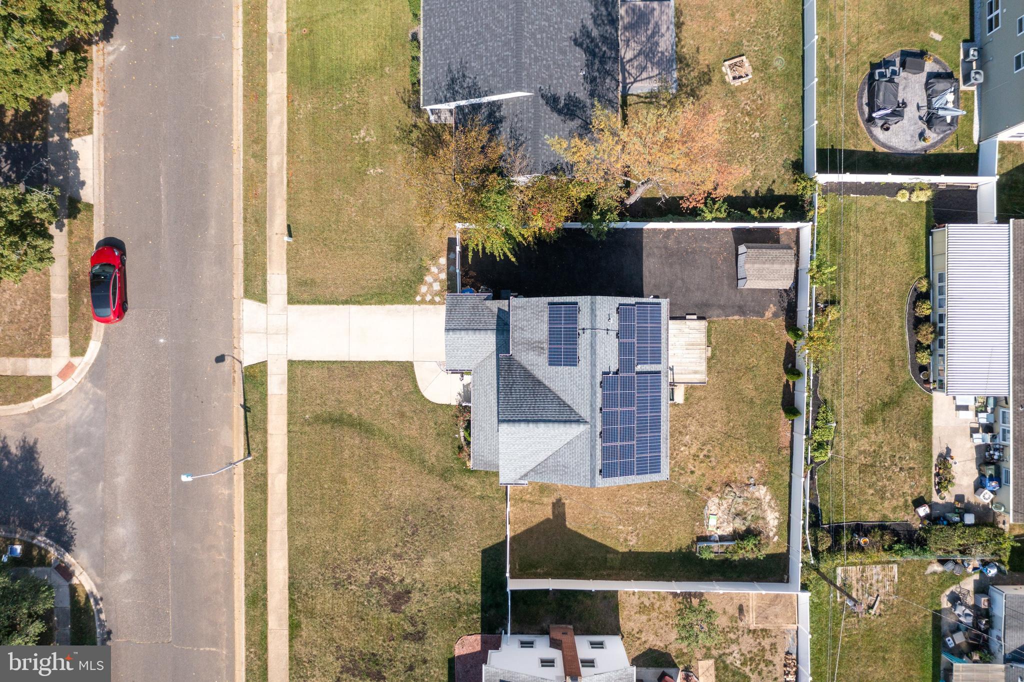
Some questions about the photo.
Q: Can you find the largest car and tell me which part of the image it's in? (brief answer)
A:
left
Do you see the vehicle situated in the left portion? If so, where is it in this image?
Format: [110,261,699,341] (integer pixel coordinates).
[87,247,132,325]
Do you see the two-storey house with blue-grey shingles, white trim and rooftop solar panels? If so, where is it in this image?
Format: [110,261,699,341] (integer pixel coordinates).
[444,292,671,488]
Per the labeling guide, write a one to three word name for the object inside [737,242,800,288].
shed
